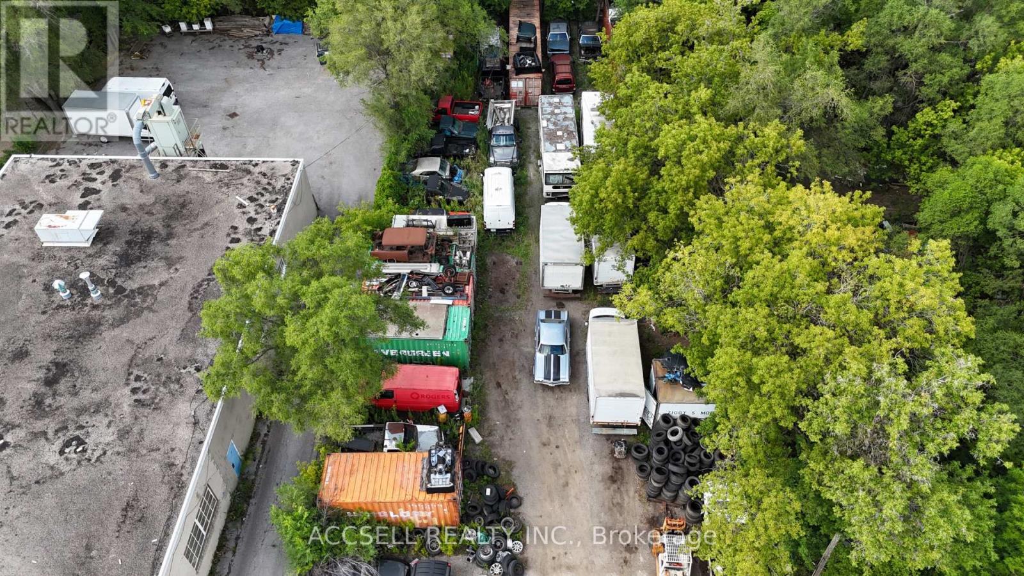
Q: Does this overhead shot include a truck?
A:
Yes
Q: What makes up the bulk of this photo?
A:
trees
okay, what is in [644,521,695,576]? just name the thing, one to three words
work vehicle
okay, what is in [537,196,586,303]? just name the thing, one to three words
truck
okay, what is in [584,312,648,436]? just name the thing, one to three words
van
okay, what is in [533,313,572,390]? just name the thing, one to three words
car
